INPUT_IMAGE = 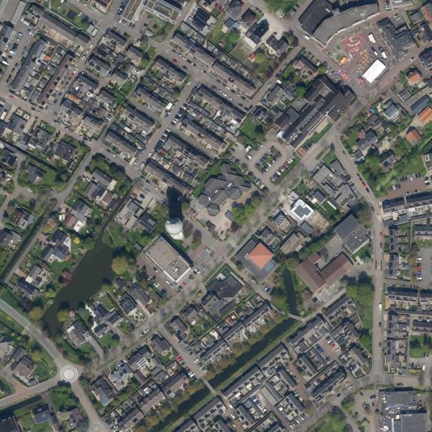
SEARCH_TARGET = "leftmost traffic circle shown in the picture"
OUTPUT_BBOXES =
[54,359,83,388]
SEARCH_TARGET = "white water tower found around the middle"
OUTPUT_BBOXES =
[165,219,185,243]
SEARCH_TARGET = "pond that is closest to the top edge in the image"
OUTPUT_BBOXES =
[45,239,113,329]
